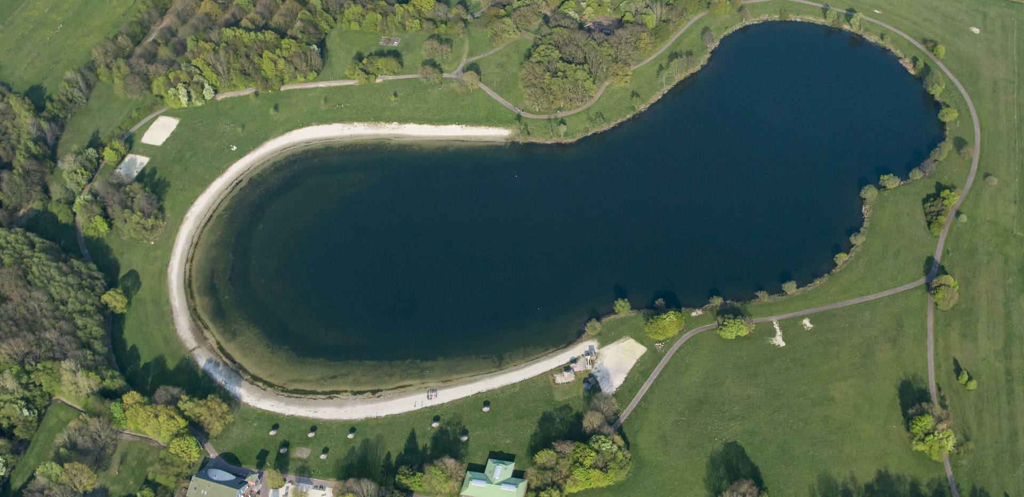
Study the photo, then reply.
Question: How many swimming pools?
0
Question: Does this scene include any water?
Yes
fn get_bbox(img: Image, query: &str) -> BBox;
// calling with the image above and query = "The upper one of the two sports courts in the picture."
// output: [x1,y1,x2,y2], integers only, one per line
[141,115,180,145]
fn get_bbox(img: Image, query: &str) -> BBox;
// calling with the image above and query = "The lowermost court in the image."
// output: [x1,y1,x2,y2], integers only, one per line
[119,153,150,178]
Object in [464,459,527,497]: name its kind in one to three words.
building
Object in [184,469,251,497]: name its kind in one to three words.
building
